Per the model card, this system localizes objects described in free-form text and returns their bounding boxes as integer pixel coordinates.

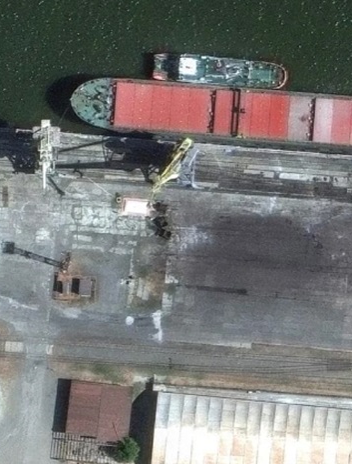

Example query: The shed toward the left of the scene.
[67,380,133,441]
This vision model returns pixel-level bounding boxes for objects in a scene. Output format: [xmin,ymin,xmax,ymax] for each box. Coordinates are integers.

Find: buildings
[67,380,133,441]
[150,389,352,464]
